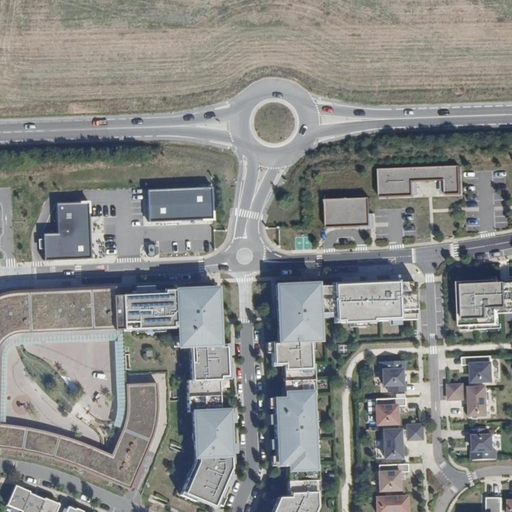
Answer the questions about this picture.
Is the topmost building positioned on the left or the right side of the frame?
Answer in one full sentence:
The topmost building sits on the right side.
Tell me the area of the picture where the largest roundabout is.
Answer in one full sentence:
The largest roundabout is in the top part of the image.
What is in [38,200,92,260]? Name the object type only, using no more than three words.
building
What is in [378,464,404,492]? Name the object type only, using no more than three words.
house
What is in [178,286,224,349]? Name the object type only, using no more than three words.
building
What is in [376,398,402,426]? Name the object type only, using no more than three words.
house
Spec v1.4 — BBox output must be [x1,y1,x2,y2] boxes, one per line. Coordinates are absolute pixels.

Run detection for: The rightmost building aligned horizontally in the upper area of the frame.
[376,166,462,197]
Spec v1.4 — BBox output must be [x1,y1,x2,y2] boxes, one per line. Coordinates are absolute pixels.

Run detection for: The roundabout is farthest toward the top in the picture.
[250,98,299,148]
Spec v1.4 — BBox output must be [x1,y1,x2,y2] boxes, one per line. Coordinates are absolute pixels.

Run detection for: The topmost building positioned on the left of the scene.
[148,186,216,223]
